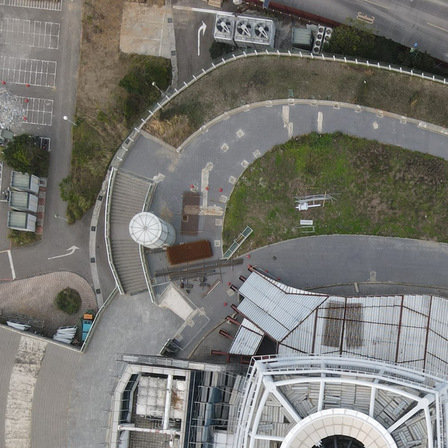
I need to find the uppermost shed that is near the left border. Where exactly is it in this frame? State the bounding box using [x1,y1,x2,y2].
[10,170,50,193]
